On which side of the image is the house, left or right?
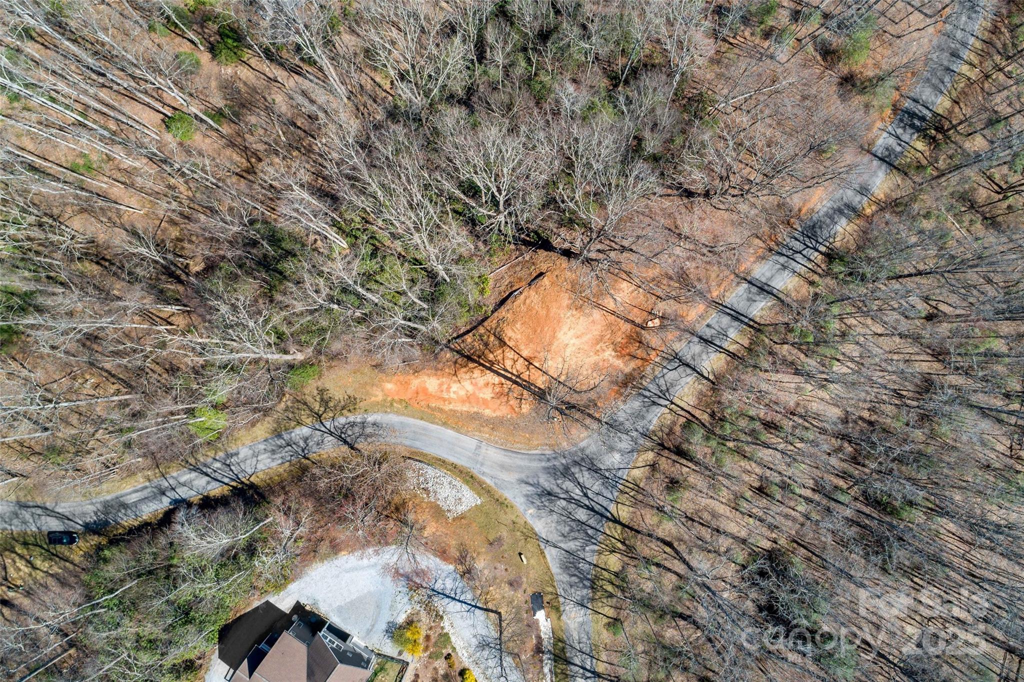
left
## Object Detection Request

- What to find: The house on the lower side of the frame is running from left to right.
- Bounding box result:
[231,618,375,682]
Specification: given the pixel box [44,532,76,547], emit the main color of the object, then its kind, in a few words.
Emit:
black car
